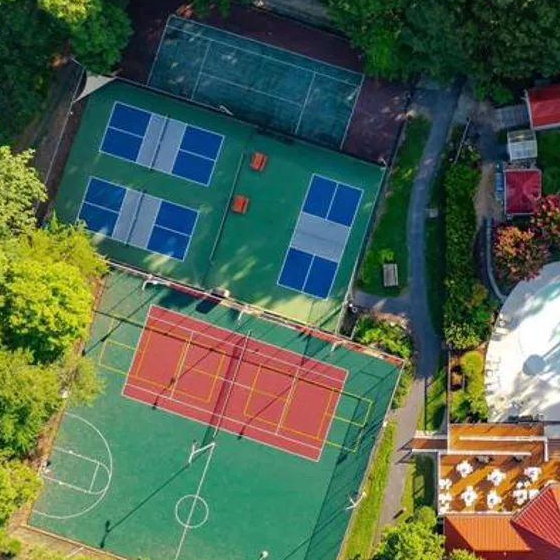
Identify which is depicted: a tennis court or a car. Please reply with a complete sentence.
Looking from above, you can make out a tennis court.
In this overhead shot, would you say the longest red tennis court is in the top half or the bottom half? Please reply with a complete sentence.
You can find the longest red tennis court in the bottom half.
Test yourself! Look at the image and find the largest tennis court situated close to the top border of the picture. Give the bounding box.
[147,15,364,145]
